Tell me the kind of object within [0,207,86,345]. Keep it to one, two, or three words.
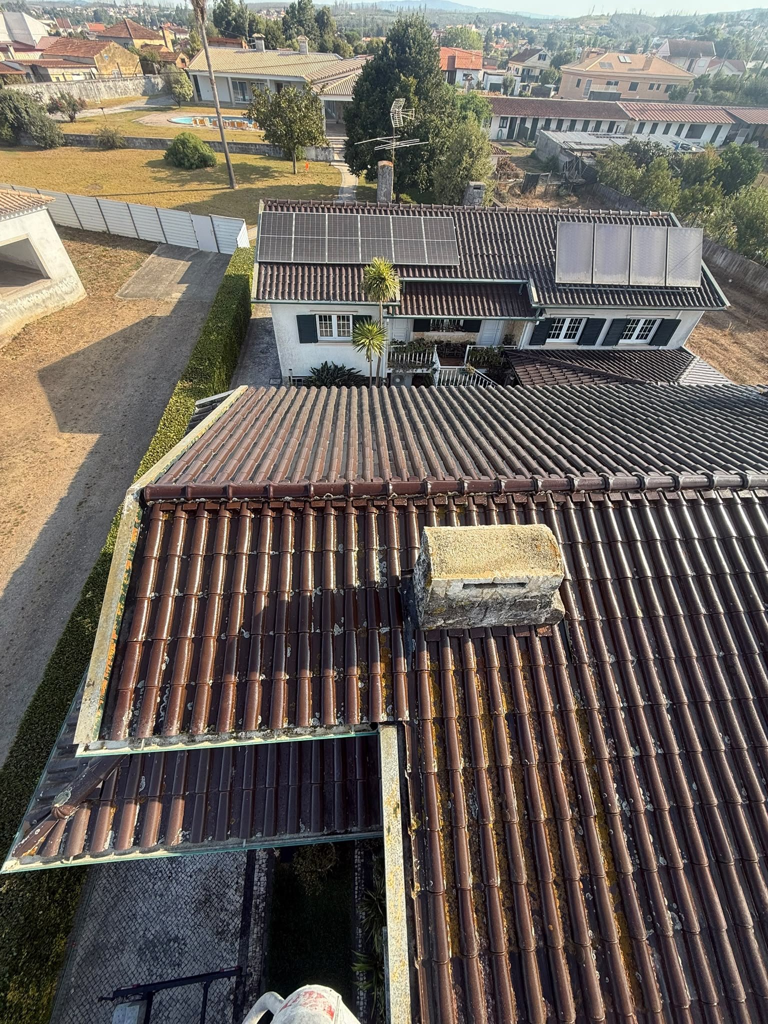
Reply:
house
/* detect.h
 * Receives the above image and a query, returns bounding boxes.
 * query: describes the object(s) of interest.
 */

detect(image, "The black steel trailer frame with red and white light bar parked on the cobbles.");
[86,965,257,1024]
